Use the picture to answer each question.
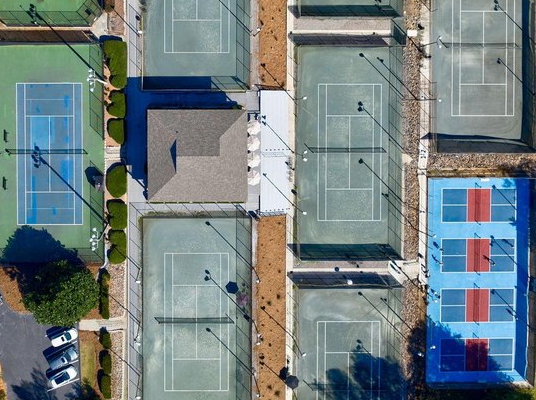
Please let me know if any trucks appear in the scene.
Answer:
No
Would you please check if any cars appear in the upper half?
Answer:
No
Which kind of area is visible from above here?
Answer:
sports ground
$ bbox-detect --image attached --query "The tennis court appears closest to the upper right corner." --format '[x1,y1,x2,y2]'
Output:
[432,0,534,153]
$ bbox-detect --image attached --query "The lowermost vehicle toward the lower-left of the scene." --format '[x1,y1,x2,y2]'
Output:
[49,367,78,387]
